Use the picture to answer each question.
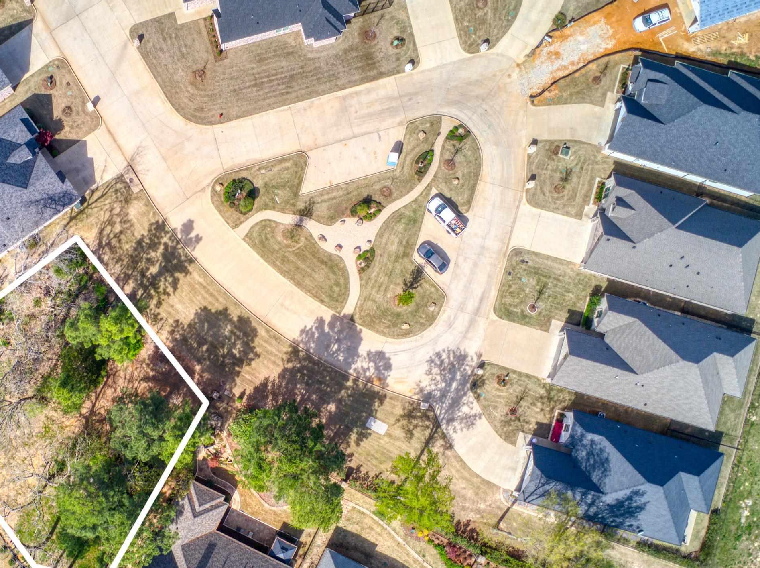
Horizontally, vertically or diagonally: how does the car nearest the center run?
diagonally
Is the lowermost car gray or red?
gray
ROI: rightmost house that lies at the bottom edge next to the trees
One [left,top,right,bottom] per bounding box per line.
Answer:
[510,409,724,547]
